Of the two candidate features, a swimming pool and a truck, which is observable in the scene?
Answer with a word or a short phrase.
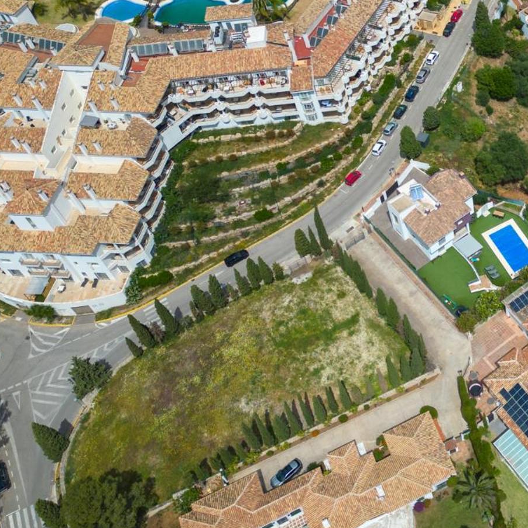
swimming pool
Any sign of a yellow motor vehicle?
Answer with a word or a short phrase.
No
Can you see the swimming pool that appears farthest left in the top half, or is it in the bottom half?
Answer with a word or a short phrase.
top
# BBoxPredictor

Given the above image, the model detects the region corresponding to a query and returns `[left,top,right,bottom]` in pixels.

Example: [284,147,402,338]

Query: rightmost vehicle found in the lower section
[269,457,304,488]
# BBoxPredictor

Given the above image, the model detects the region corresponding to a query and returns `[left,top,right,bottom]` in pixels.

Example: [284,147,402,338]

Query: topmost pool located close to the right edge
[479,215,528,282]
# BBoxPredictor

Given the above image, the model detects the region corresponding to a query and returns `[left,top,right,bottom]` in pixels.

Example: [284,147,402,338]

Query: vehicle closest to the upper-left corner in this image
[223,249,250,266]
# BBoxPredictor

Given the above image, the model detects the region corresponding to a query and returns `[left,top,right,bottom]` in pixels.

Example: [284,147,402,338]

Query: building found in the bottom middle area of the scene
[177,411,454,528]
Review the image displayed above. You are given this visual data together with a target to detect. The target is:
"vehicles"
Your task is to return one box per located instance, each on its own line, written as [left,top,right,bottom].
[382,121,399,136]
[415,66,432,83]
[223,249,250,266]
[402,83,422,102]
[424,50,440,65]
[448,8,465,22]
[441,19,457,38]
[343,170,363,185]
[392,104,409,120]
[370,138,389,157]
[0,462,13,494]
[269,457,304,488]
